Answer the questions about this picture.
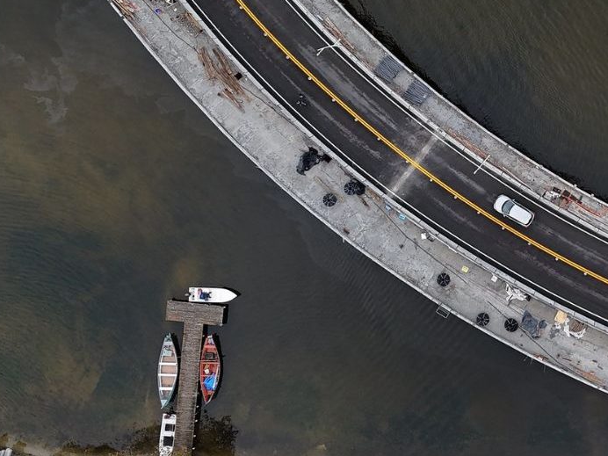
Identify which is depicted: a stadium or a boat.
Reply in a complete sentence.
Of the two, only a boat appears.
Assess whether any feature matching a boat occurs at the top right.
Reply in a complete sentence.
No, at the top right there is no boat.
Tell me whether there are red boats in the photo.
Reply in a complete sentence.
Yes, you can see a red boat in this photo.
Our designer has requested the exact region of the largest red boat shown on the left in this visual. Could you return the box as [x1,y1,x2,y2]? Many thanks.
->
[199,332,219,406]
